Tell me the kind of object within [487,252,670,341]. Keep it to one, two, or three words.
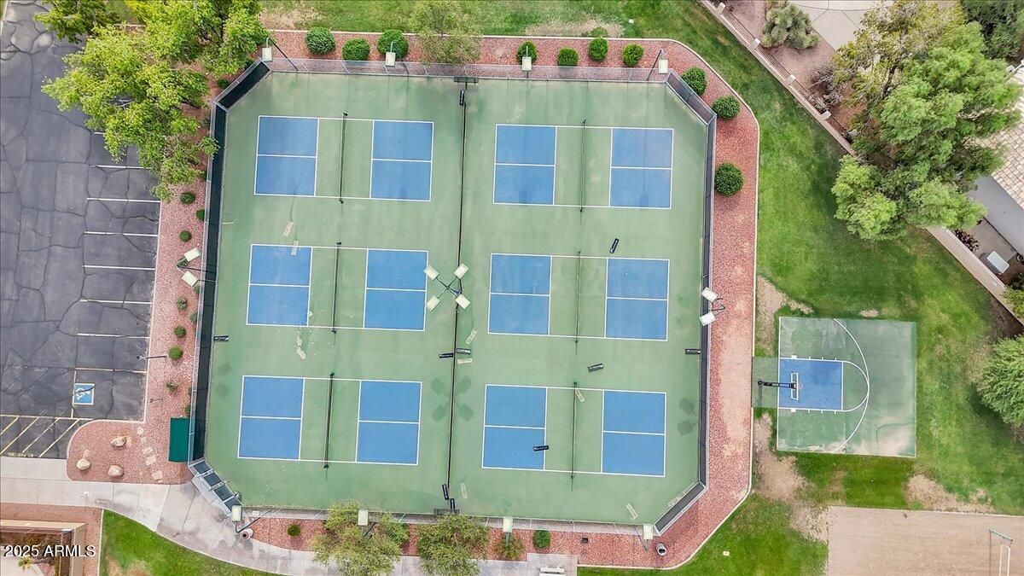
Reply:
sports court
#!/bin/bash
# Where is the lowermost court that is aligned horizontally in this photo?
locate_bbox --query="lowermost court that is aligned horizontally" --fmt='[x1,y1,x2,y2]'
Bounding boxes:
[828,506,1024,576]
